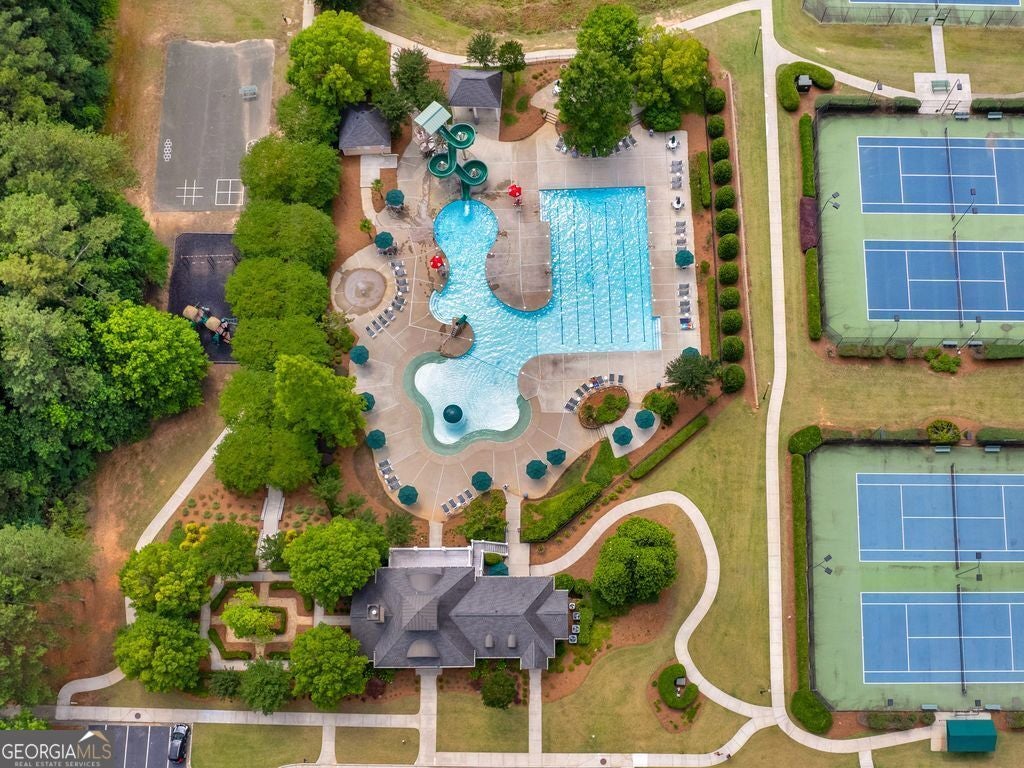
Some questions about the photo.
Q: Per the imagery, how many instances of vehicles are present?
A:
one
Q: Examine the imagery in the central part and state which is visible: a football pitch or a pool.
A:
pool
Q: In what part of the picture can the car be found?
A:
bottom left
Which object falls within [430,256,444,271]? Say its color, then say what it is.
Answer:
red umbrella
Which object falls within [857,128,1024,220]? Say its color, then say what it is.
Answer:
blue tennis court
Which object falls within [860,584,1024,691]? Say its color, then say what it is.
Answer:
blue tennis court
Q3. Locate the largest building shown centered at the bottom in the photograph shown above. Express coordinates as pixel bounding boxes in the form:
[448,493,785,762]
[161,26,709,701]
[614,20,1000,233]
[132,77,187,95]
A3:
[352,539,568,670]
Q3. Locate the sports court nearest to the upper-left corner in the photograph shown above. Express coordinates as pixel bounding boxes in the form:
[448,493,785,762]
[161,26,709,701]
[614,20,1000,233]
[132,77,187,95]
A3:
[153,39,274,212]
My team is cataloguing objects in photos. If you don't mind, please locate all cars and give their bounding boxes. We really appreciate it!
[166,722,188,763]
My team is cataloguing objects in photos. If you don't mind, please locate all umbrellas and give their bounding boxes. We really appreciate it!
[356,391,377,411]
[526,459,547,480]
[397,484,418,505]
[471,470,493,492]
[546,447,566,466]
[430,256,444,271]
[349,345,370,365]
[508,185,522,199]
[375,231,394,250]
[365,428,386,449]
[611,425,632,446]
[486,557,508,576]
[674,249,694,269]
[634,409,655,429]
[386,187,406,206]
